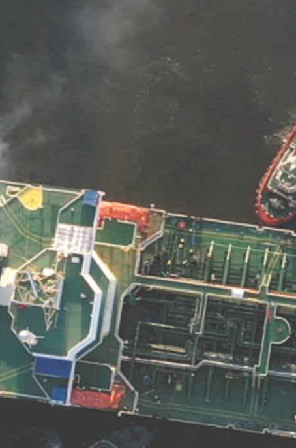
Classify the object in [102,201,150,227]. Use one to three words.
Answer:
boat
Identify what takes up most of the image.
water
